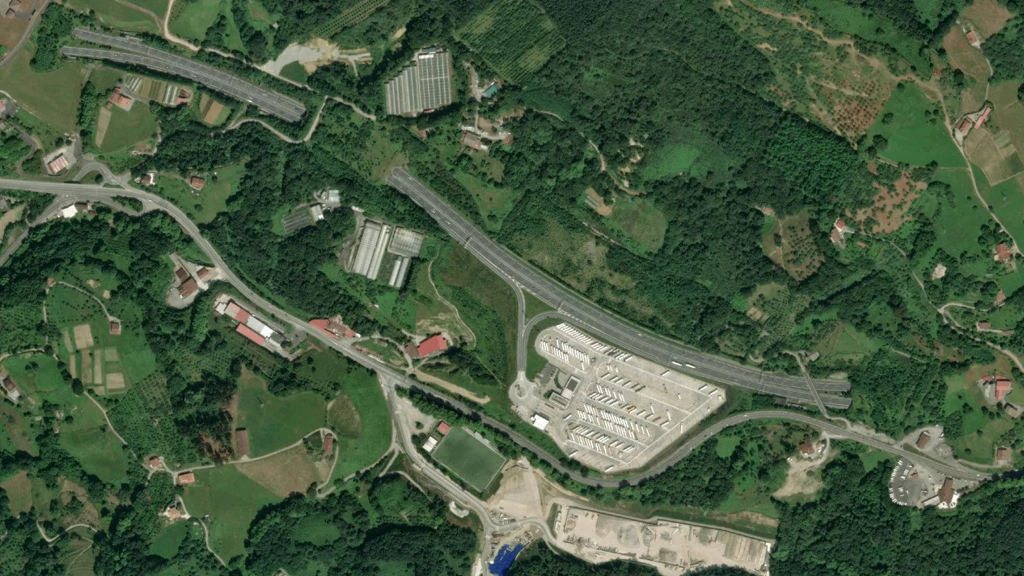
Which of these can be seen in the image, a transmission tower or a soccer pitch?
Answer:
soccer pitch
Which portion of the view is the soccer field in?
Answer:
bottom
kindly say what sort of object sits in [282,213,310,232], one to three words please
house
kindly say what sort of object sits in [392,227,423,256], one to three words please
greenhouse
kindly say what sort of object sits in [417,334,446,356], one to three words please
barn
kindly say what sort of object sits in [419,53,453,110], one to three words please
greenhouse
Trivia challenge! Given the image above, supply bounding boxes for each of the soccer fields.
[431,426,506,490]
